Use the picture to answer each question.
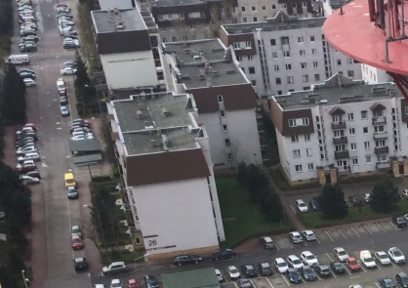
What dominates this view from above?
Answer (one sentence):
The largest share of the image is taken up by buildings.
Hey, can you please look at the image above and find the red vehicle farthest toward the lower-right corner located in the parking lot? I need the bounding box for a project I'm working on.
[344,255,361,271]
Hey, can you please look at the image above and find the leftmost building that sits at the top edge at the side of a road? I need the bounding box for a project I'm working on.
[83,0,166,95]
